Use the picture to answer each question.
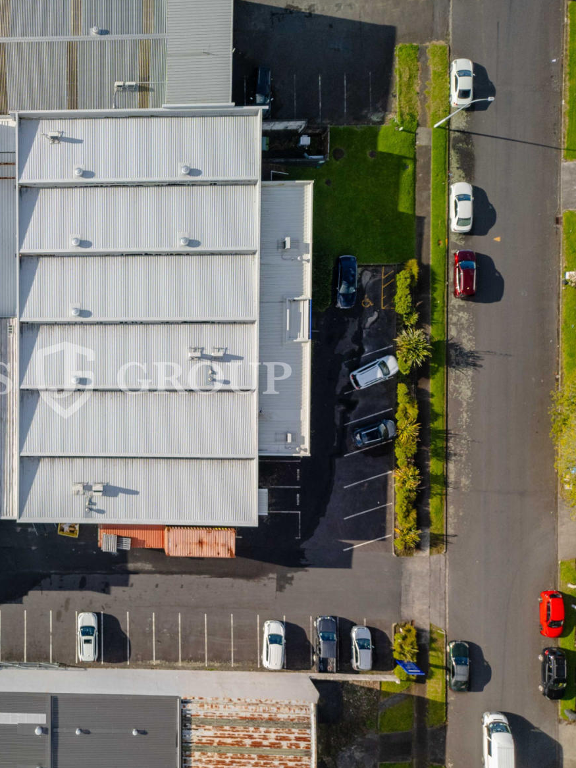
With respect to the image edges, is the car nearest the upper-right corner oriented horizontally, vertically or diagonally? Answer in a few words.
vertically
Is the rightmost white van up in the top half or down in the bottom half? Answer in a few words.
bottom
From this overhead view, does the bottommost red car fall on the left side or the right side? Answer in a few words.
right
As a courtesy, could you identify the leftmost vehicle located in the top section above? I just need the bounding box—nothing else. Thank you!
[252,64,277,118]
